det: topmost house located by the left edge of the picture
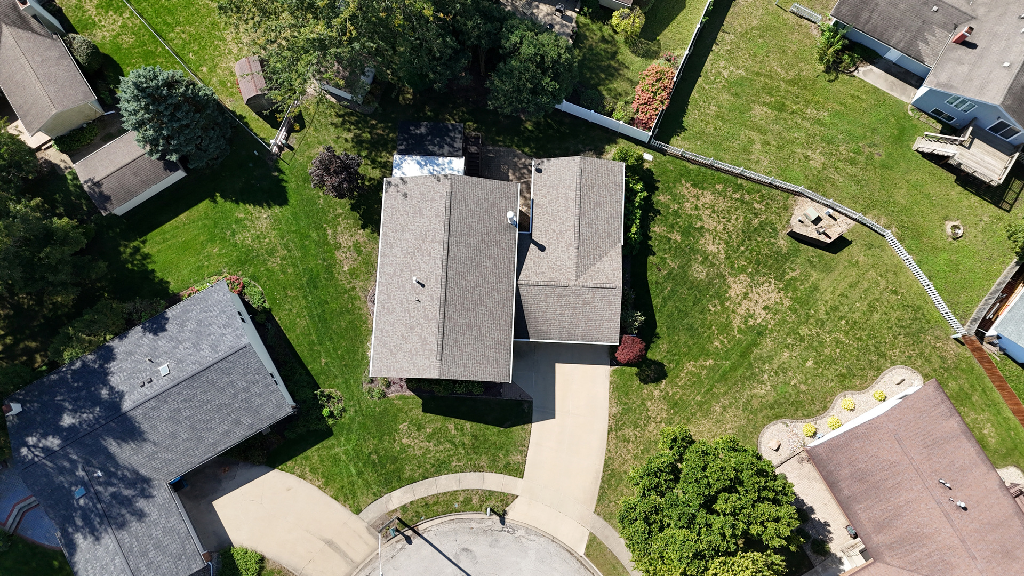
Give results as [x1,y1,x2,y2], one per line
[0,0,119,140]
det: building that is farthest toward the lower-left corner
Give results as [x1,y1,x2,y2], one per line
[0,277,296,576]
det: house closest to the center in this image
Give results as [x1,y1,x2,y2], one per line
[366,157,628,383]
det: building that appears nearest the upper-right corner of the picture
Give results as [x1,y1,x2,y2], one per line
[829,0,1024,161]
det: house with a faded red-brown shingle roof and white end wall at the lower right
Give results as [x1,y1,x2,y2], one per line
[799,378,1024,576]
